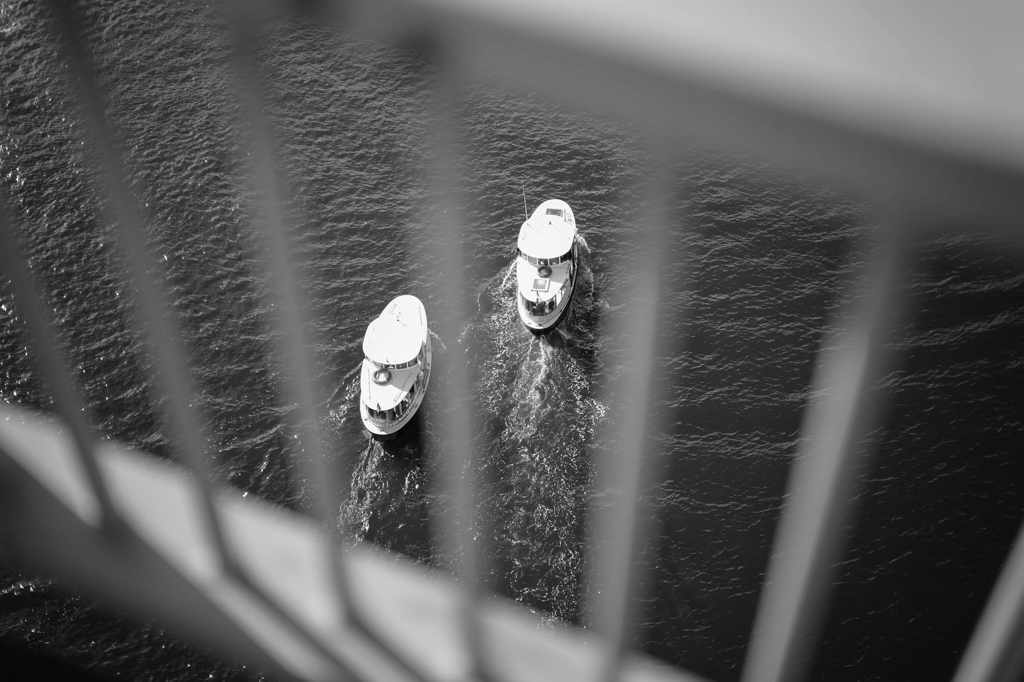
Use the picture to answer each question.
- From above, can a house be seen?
No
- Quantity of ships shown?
2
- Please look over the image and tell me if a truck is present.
No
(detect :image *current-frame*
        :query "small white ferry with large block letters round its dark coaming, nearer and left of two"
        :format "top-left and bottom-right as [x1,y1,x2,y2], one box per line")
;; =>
[360,293,433,442]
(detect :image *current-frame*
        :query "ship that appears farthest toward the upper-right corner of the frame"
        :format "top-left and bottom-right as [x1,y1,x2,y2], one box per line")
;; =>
[516,169,581,337]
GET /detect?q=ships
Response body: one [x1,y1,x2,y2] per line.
[360,293,433,442]
[516,169,581,337]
